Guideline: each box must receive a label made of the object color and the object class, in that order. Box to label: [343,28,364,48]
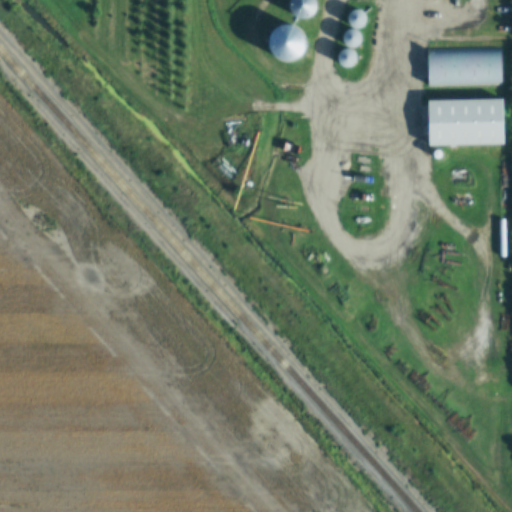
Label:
white silo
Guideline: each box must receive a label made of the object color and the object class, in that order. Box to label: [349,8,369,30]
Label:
white silo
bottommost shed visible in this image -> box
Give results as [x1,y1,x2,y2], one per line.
[428,98,506,146]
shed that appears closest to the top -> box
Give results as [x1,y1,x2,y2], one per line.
[428,48,504,86]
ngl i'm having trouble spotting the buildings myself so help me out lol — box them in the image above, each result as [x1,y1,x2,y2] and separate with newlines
[428,98,506,146]
[428,48,504,86]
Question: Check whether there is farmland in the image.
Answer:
Yes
